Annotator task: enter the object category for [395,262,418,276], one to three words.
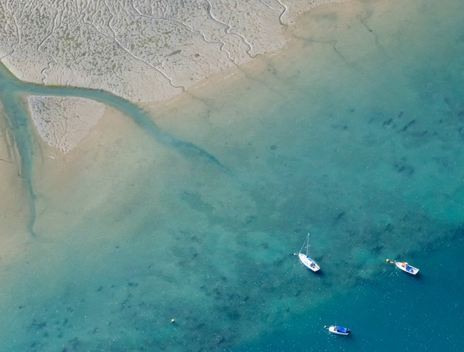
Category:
boat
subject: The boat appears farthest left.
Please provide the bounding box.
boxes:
[300,237,320,272]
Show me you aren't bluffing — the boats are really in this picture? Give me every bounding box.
[395,262,418,276]
[300,237,320,272]
[329,326,352,336]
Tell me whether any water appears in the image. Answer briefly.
Yes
